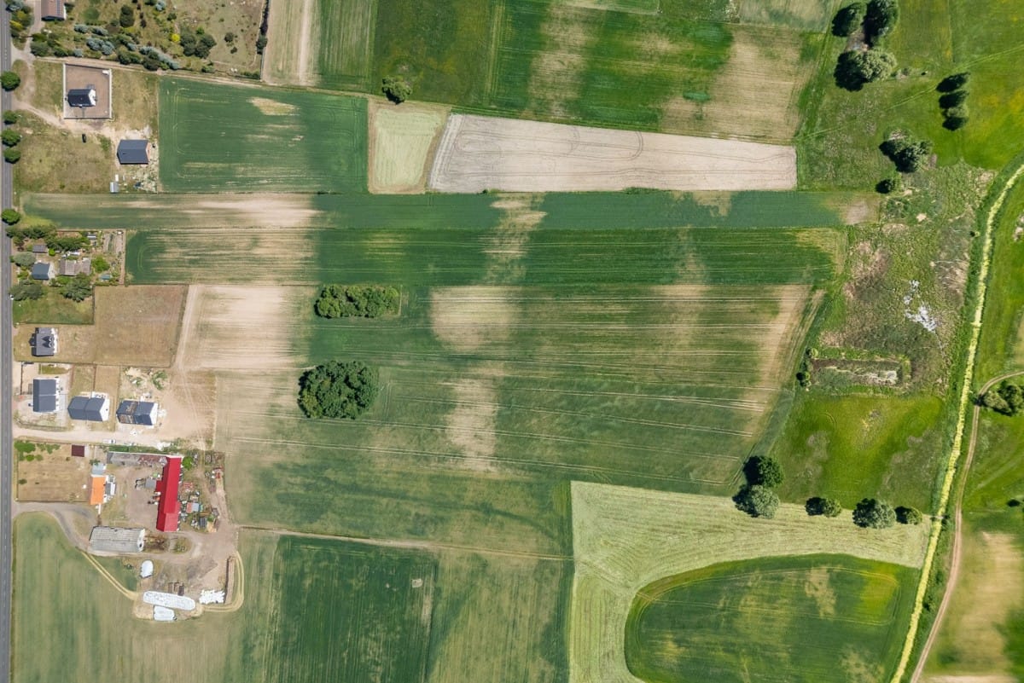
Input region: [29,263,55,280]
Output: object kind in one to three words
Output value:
house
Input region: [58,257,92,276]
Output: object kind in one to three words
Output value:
building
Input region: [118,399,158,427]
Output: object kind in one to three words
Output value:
house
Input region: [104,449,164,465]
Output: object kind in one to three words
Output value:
shed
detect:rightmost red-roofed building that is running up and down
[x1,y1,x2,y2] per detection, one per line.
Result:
[158,455,189,537]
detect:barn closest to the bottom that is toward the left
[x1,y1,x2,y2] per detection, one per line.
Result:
[89,525,145,553]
